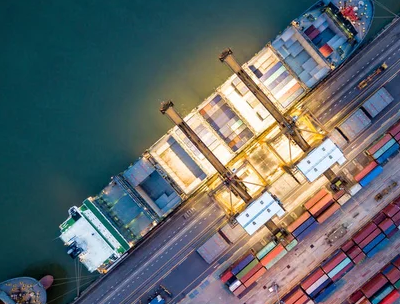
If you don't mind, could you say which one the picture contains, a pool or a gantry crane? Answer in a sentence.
I can see a gantry crane in this picture.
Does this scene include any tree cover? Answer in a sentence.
No, the scene doesn't show any tree cover.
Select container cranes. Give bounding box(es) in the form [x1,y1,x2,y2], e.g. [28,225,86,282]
[158,99,288,240]
[216,47,347,189]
